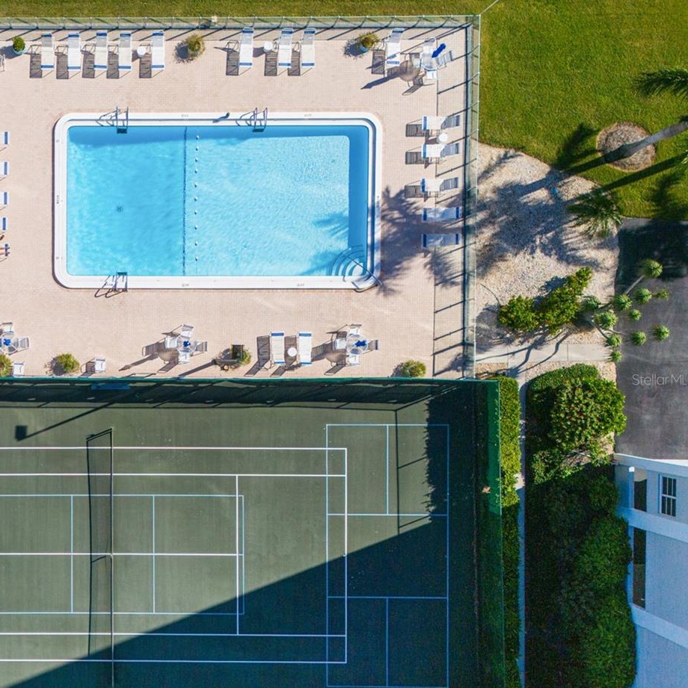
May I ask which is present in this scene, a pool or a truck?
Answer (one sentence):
The image shows a pool.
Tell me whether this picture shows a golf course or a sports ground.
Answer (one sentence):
This image shows a sports ground.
